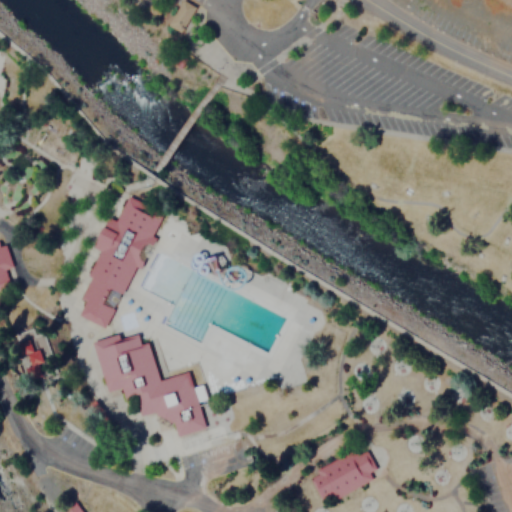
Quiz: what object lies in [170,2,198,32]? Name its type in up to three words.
shed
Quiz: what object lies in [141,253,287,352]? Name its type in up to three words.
swimming pool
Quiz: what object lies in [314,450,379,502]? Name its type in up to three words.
building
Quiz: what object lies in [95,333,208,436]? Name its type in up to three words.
building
